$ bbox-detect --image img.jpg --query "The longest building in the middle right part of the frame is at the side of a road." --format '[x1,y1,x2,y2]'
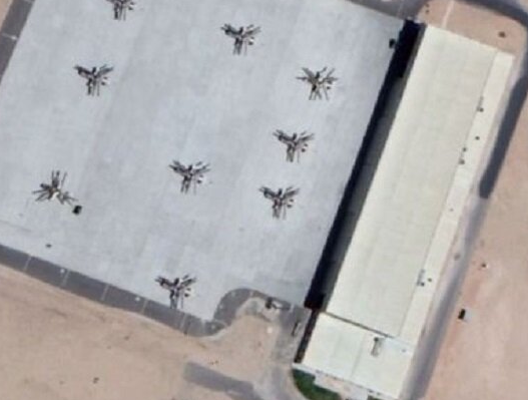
[314,22,514,342]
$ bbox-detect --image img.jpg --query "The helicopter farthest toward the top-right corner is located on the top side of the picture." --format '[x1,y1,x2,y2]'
[303,69,337,100]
